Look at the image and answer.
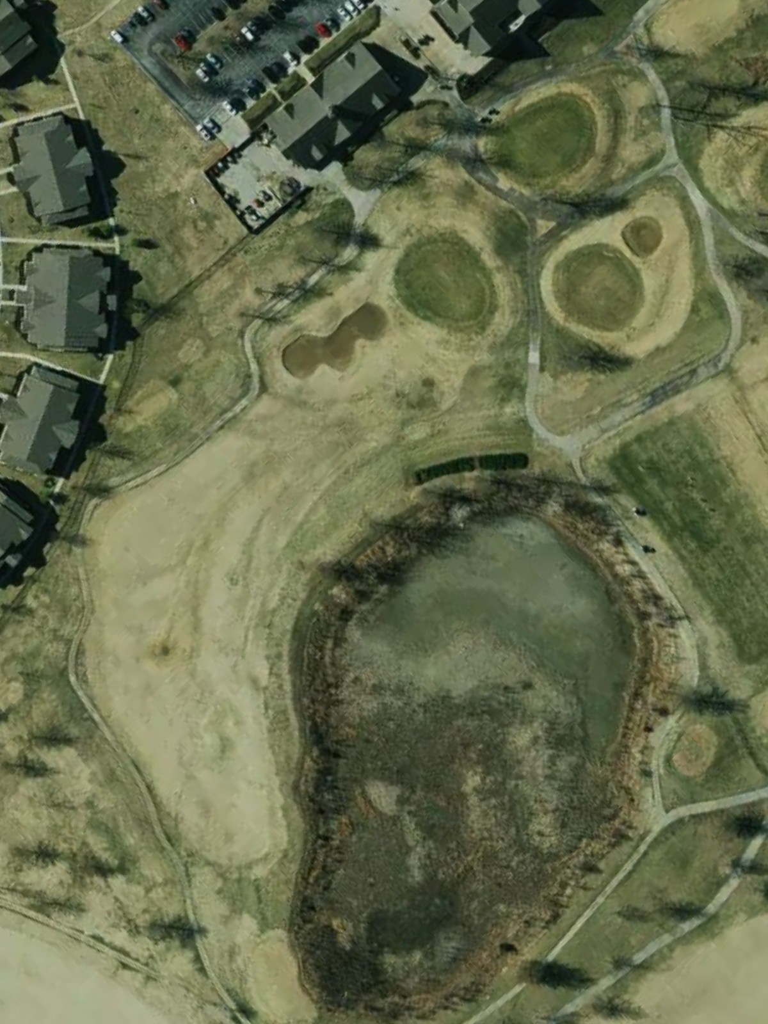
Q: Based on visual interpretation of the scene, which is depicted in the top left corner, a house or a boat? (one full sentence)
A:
Looking in the top left corner, you will find a house.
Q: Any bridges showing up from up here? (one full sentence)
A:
No, I can't see a single bridge in this photo.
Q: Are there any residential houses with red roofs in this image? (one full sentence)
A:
No, there isn't any residential house with a red roof down there.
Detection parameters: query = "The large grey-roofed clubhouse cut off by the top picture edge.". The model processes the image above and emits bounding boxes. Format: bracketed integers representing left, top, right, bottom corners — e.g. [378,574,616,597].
[430,0,550,59]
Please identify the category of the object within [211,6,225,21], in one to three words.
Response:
car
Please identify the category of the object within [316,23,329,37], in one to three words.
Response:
vehicle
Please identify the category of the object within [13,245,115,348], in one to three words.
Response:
house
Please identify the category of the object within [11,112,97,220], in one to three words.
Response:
house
